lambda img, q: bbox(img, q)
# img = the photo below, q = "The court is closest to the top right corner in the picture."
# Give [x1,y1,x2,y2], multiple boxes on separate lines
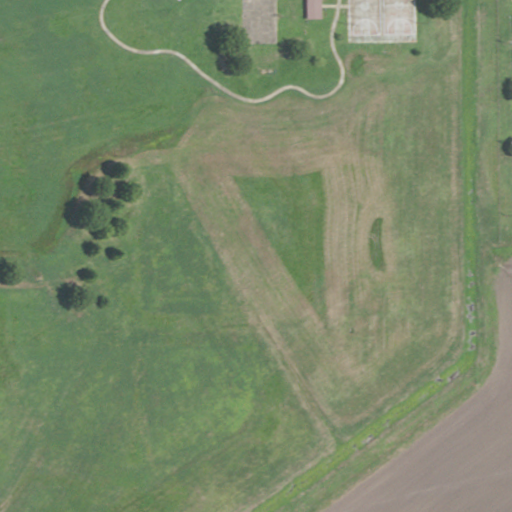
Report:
[385,0,415,36]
